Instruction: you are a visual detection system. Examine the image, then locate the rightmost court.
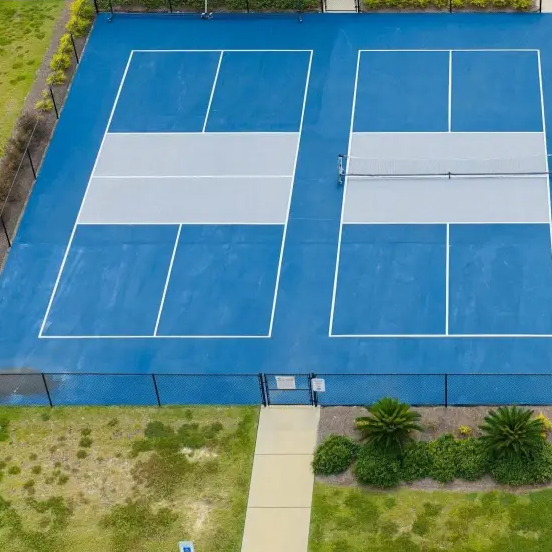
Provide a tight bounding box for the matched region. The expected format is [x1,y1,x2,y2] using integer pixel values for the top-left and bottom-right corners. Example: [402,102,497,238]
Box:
[329,50,552,337]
